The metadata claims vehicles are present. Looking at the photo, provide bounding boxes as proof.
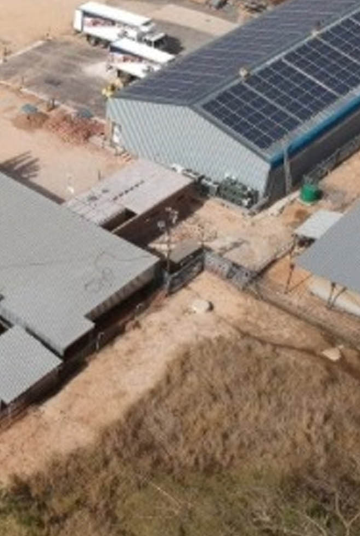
[105,37,176,79]
[84,2,170,53]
